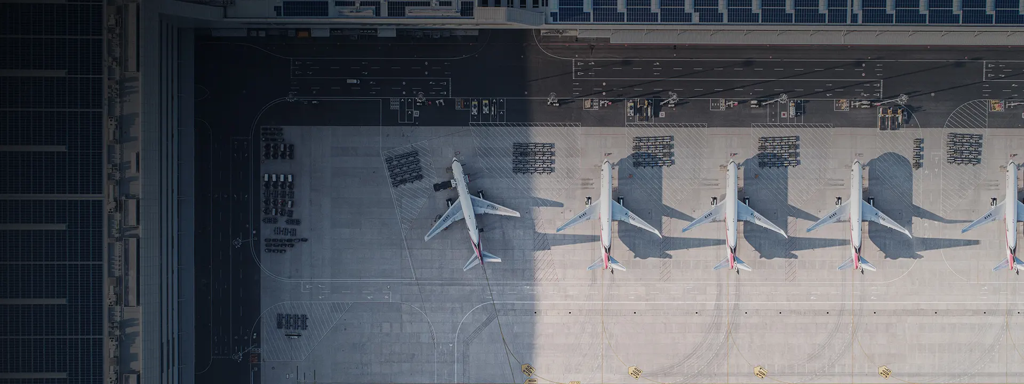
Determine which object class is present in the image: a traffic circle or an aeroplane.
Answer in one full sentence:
The one in the frame is an aeroplane.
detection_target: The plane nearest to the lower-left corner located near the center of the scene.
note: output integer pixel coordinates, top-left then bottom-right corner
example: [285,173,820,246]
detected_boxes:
[423,158,521,271]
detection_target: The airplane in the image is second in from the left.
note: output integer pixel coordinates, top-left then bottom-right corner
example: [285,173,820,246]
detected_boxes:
[554,159,663,272]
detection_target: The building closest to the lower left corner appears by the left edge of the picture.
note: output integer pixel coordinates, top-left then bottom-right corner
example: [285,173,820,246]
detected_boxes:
[0,0,195,384]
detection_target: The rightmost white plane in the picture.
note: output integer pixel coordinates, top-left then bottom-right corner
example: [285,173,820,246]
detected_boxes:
[964,161,1024,272]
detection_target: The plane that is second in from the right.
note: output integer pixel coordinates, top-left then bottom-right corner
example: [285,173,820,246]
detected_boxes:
[807,160,917,274]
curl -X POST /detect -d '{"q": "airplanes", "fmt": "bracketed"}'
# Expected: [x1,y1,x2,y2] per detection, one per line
[682,160,791,273]
[423,158,521,271]
[554,159,663,272]
[807,160,917,274]
[964,161,1024,272]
